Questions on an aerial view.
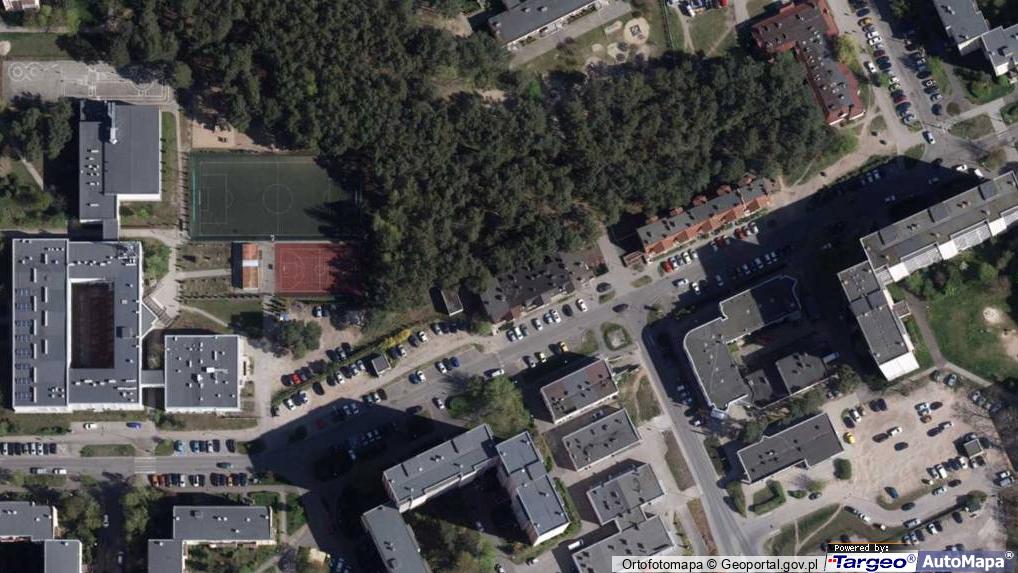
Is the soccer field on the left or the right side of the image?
left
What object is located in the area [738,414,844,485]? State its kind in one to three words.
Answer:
building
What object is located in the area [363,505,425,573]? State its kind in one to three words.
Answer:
building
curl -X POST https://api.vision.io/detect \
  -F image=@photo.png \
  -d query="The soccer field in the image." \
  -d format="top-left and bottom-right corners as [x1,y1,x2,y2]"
[190,152,362,239]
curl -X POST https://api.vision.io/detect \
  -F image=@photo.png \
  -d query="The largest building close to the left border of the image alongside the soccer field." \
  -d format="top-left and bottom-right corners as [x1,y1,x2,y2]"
[13,239,157,411]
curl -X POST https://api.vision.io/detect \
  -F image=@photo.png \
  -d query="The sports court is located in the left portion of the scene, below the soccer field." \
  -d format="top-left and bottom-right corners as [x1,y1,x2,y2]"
[274,244,361,293]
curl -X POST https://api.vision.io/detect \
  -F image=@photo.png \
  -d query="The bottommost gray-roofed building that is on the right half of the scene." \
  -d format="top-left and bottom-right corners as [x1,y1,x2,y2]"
[573,516,675,573]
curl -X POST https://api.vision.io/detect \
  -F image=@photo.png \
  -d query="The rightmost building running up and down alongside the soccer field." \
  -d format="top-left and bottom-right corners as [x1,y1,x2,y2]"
[243,244,258,290]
